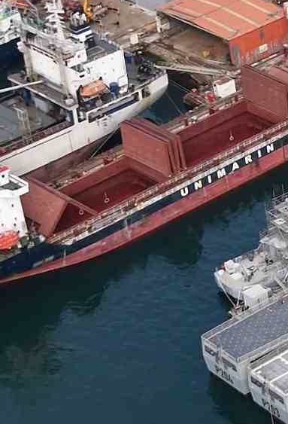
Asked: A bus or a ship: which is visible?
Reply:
ship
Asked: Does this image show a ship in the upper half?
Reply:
Yes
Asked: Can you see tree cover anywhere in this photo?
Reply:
No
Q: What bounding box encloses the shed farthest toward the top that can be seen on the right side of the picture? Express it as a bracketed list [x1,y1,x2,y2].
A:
[163,0,288,71]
